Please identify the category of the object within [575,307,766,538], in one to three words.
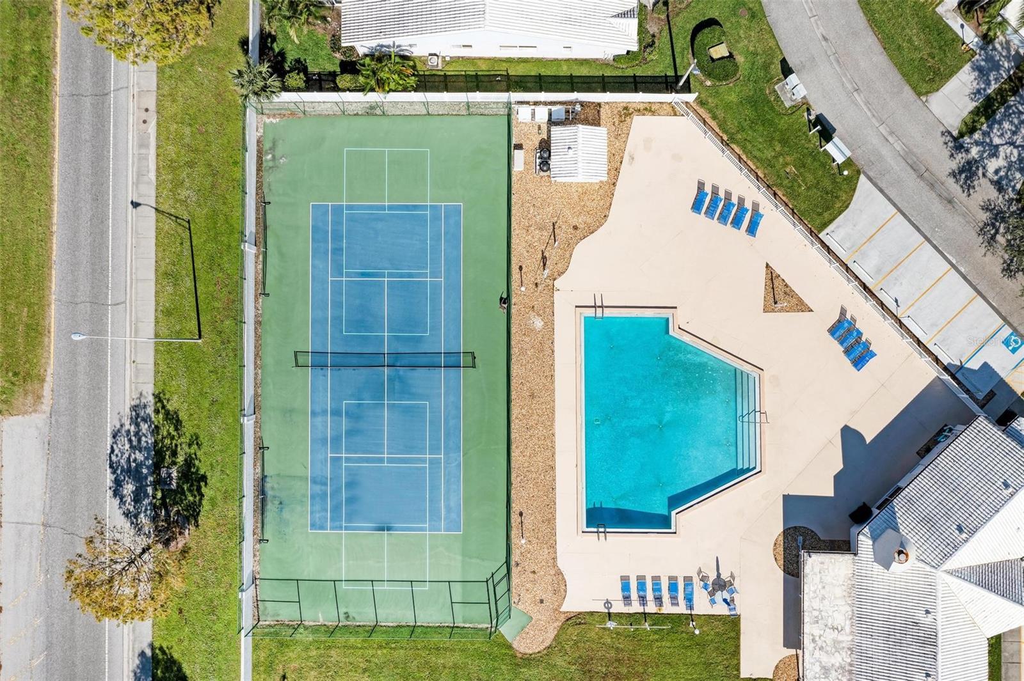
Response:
swimming pool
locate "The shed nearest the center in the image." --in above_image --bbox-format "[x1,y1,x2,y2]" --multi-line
[551,124,608,185]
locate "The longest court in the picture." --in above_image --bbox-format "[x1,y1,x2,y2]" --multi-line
[259,115,513,626]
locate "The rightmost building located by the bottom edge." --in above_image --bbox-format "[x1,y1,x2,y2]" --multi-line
[796,412,1024,681]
